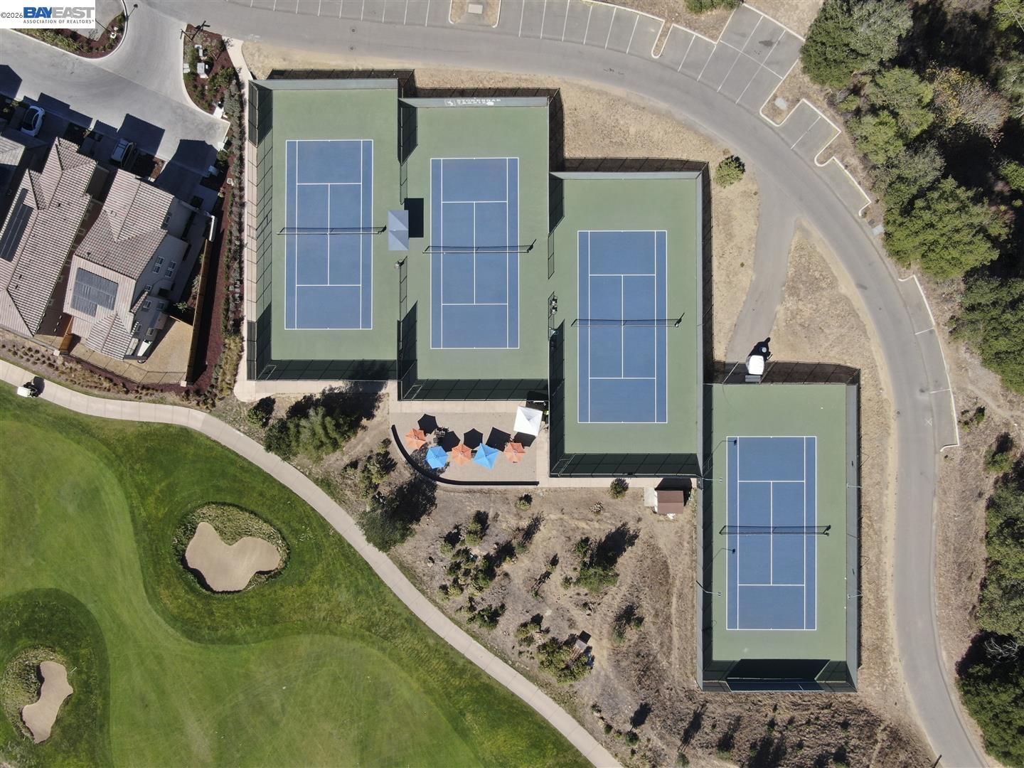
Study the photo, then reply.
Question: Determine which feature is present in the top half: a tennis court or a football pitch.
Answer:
tennis court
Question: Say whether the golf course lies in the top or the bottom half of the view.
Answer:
bottom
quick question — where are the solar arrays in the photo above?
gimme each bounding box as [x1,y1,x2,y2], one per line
[68,269,116,317]
[0,193,32,264]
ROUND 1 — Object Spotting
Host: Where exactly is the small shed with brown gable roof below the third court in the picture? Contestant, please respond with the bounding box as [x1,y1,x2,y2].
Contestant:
[654,489,685,514]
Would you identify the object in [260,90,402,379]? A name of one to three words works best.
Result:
tennis court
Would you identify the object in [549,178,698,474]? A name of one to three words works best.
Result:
tennis court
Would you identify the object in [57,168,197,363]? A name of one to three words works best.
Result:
house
